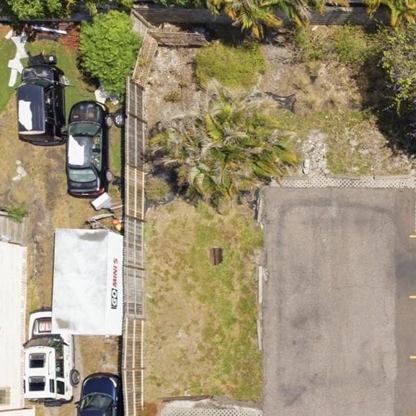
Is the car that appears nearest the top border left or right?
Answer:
left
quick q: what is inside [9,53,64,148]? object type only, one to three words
car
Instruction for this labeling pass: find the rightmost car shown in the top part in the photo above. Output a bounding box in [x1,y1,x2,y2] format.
[54,101,109,198]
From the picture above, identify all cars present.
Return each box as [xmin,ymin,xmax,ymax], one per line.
[17,308,78,410]
[9,53,64,148]
[71,369,125,416]
[54,101,109,198]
